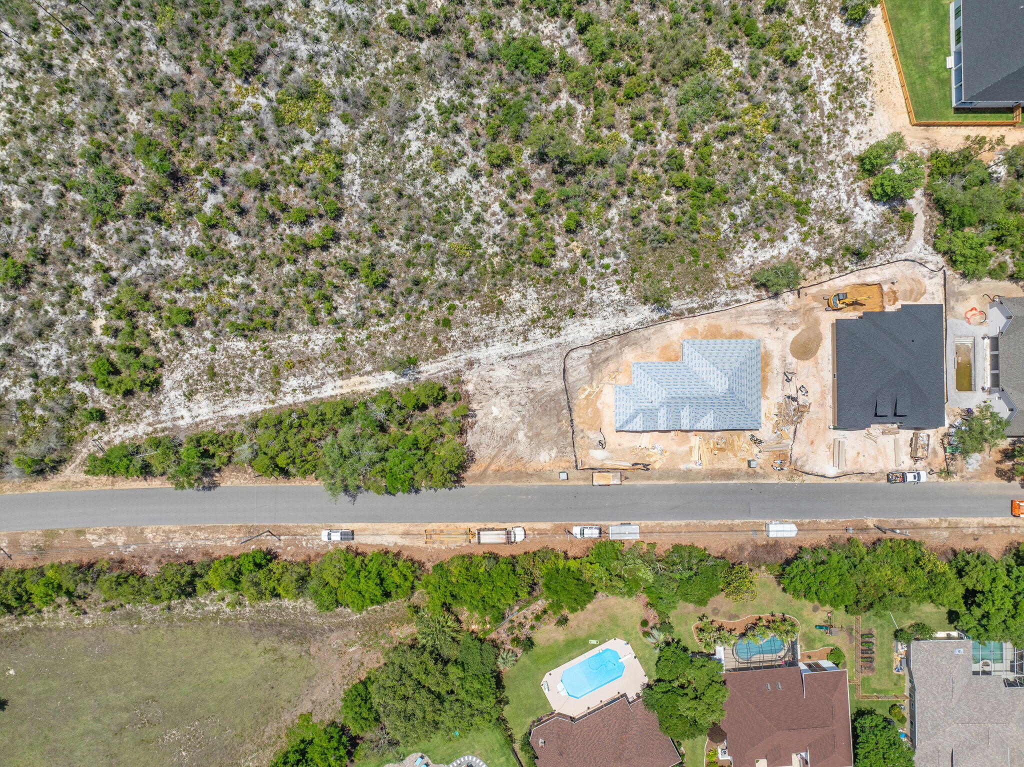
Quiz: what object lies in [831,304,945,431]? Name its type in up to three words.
house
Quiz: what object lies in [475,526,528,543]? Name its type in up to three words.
vehicle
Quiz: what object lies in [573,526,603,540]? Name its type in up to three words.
vehicle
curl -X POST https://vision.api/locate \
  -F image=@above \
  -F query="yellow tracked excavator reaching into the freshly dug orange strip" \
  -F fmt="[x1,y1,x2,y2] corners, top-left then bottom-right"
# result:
[824,292,876,311]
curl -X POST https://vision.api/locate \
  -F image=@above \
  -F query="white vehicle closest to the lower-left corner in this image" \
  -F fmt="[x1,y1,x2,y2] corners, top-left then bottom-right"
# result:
[321,530,353,544]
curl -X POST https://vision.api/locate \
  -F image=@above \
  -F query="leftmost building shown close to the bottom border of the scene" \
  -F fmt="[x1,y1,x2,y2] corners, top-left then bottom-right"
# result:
[530,687,681,767]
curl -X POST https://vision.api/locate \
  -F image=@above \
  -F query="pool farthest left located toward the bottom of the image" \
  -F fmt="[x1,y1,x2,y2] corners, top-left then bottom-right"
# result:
[541,638,648,719]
